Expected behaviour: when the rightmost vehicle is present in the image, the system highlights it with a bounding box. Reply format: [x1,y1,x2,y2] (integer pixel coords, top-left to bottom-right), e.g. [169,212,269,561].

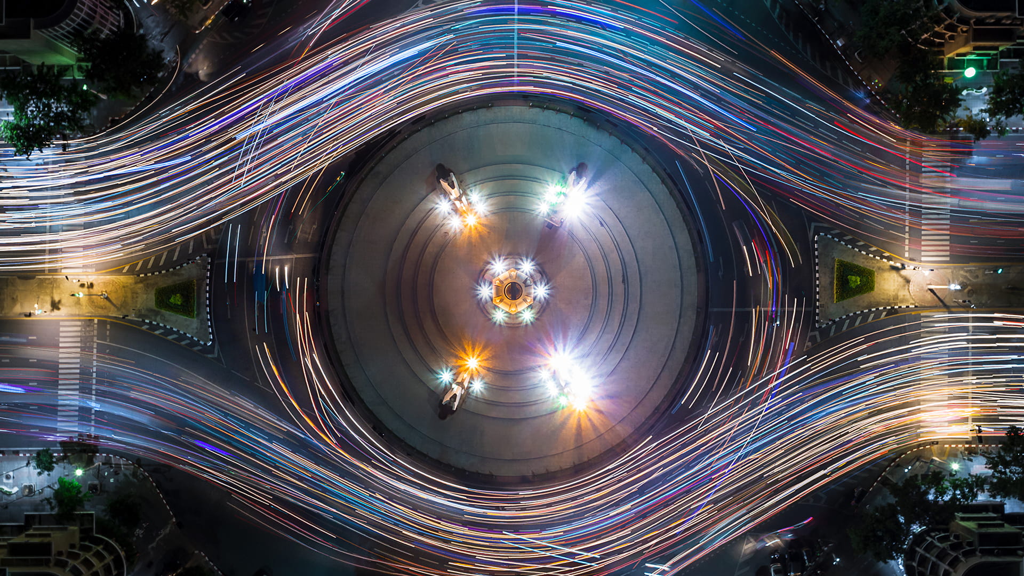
[958,174,1019,189]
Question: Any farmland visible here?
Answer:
No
